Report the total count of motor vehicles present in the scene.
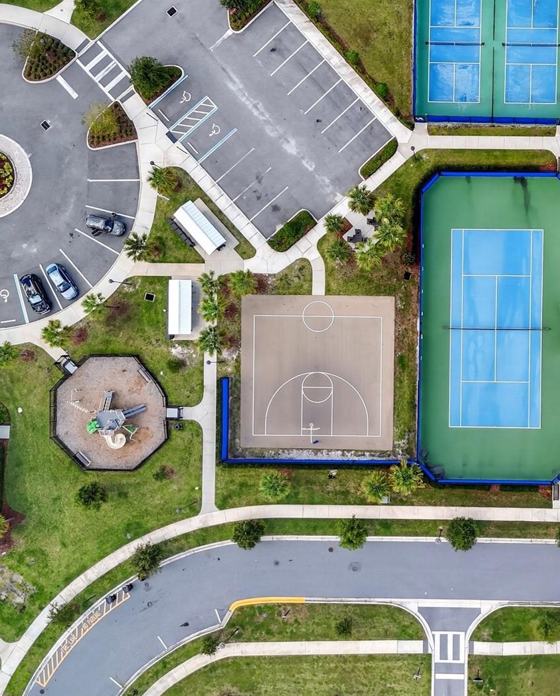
3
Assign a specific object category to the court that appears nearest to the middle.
basketball court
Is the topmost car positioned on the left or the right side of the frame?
left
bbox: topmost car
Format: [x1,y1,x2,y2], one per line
[85,215,129,240]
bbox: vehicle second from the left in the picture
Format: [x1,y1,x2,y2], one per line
[46,262,79,300]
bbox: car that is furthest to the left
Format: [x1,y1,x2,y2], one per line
[19,272,53,314]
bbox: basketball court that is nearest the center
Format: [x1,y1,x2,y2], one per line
[240,295,395,450]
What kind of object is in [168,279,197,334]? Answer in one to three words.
building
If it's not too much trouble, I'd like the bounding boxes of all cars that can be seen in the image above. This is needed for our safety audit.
[19,272,53,314]
[46,262,79,300]
[85,215,129,240]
